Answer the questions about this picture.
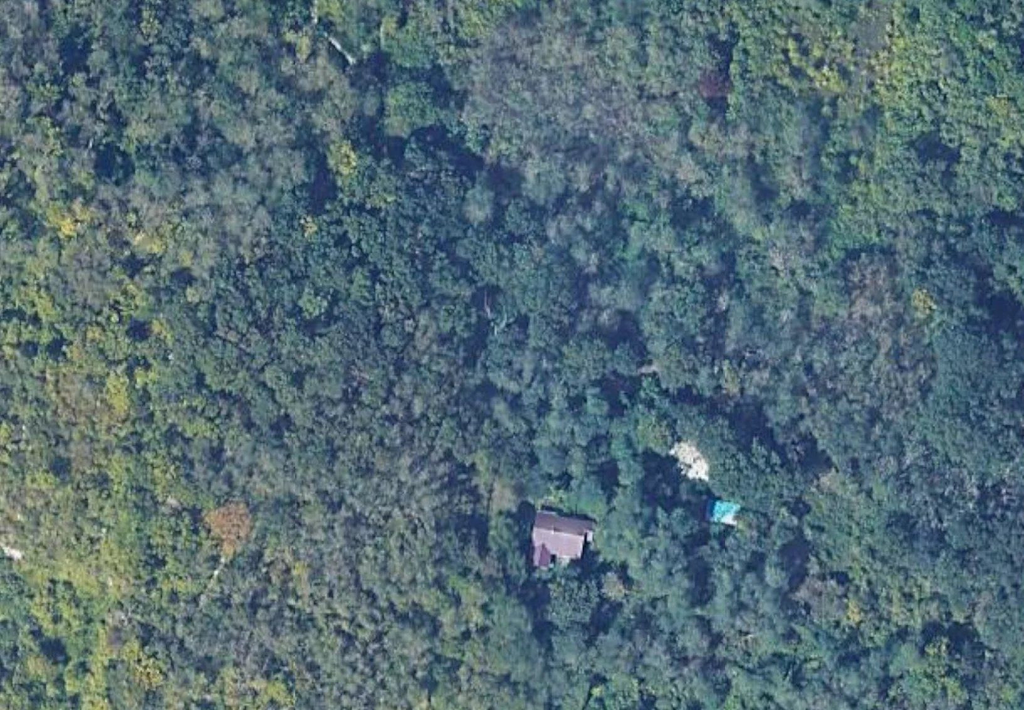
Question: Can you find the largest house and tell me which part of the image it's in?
bottom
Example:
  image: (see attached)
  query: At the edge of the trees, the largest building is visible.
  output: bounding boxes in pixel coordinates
[530,511,597,569]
